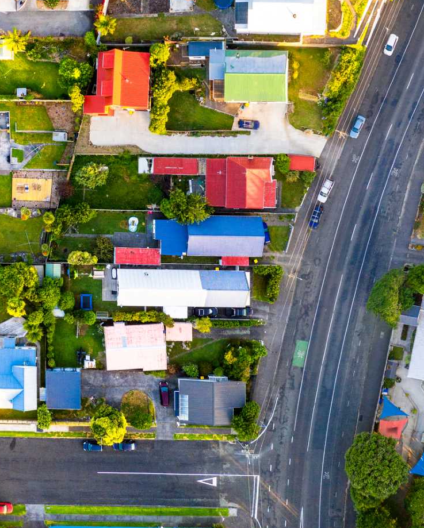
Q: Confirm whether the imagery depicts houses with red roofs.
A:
Yes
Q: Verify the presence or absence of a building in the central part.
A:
Yes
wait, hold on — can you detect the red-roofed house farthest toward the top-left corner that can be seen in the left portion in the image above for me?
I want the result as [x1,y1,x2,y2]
[83,47,151,116]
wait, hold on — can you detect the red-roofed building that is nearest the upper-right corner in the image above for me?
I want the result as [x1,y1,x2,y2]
[289,155,315,171]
